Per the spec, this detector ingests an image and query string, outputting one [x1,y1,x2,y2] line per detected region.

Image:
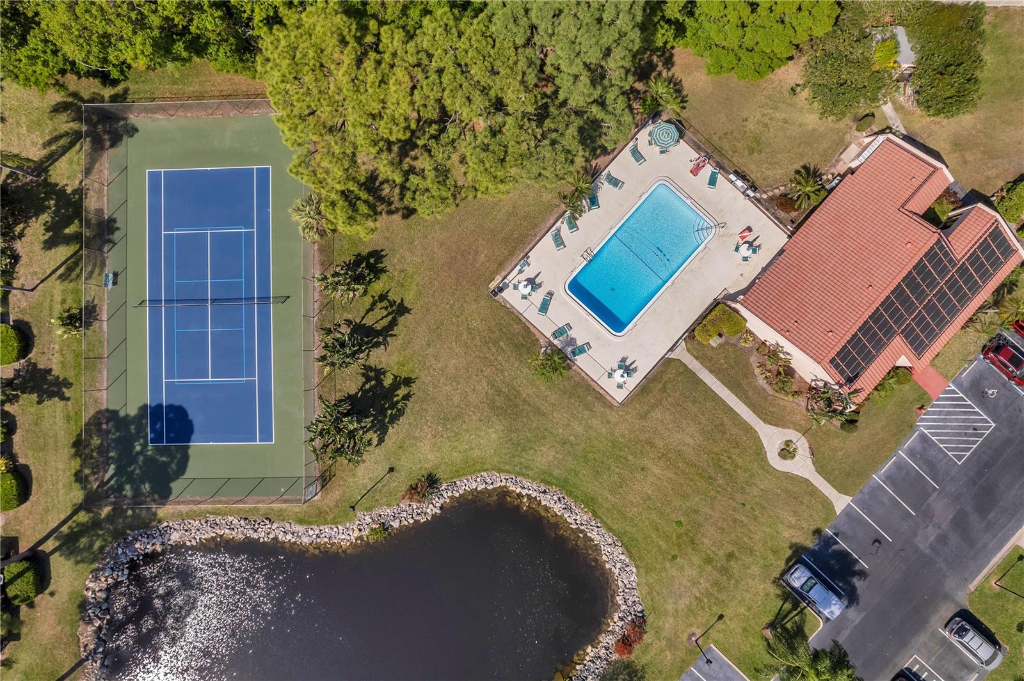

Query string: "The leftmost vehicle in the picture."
[785,563,843,620]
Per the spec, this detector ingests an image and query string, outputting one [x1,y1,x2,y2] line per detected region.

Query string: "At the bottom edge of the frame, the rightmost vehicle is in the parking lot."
[943,612,997,663]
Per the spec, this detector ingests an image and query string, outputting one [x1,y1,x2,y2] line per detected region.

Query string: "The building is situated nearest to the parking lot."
[735,129,1024,409]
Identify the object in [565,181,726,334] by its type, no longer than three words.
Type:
swimming pool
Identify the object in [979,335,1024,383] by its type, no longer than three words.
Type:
car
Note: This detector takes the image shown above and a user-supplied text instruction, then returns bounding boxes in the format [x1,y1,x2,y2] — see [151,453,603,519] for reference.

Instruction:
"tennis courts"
[107,114,314,500]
